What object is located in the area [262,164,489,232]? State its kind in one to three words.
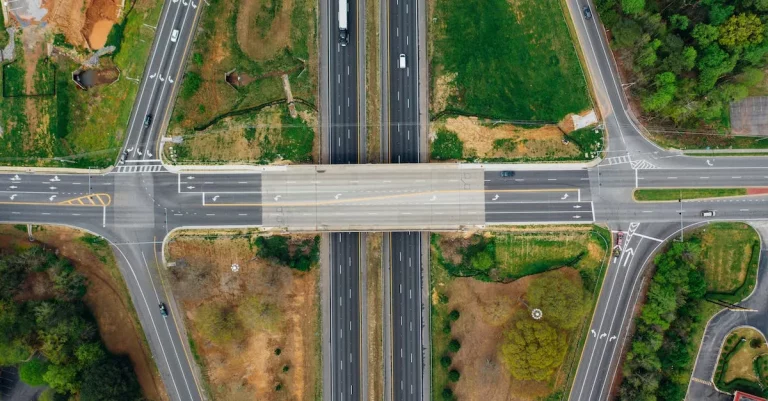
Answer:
bridge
